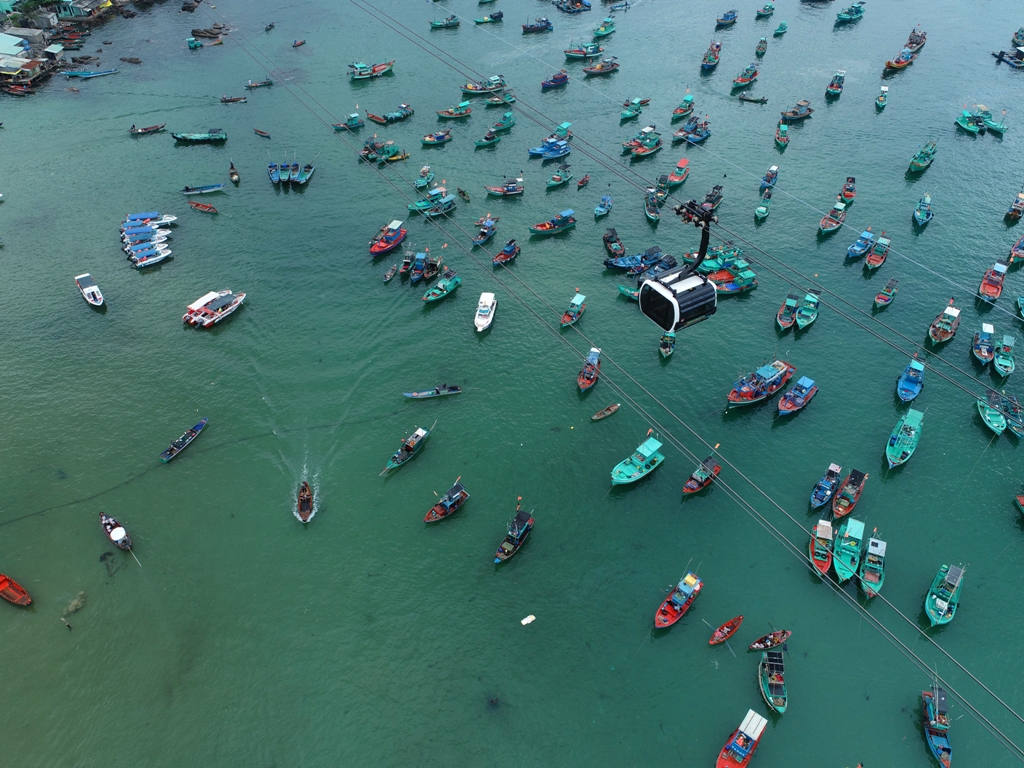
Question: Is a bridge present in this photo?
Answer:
No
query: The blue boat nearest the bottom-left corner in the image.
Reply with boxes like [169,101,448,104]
[148,419,208,462]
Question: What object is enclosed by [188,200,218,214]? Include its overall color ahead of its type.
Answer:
red boat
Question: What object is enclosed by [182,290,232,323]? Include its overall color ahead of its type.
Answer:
white boat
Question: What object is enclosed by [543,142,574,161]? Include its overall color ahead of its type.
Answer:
blue boat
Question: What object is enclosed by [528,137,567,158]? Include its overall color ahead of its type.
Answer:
blue boat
